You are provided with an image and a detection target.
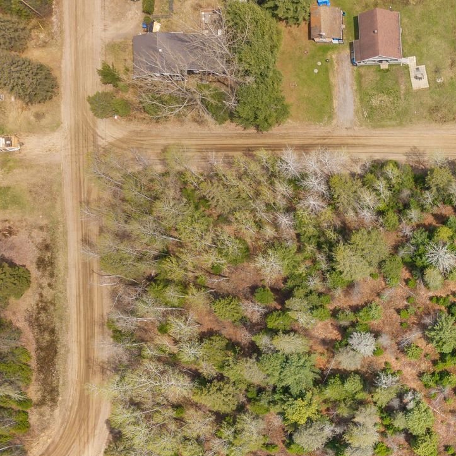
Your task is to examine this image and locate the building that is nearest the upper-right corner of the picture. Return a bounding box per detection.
[354,7,402,65]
